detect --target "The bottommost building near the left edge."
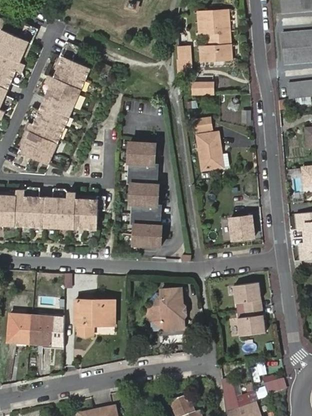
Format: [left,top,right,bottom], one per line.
[6,312,65,348]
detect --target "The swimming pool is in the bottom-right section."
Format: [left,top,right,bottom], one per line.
[242,340,258,353]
